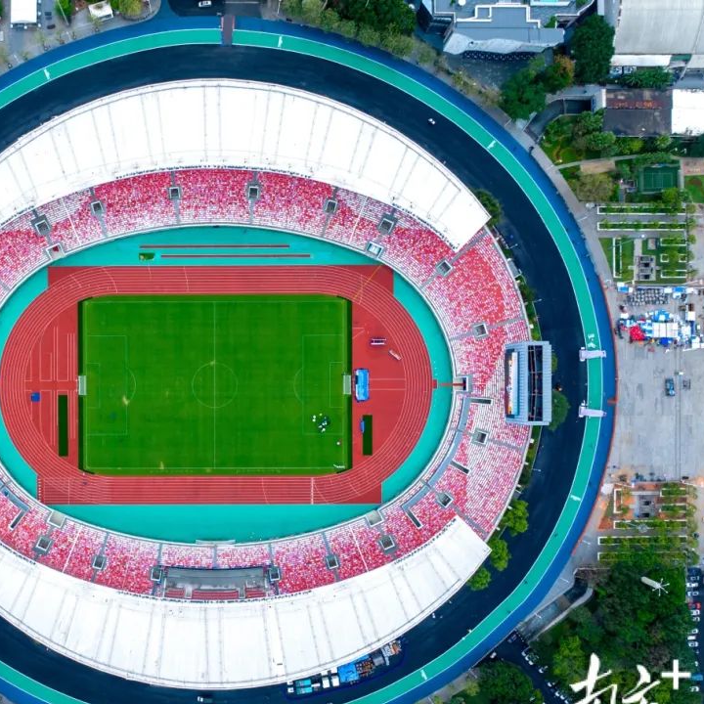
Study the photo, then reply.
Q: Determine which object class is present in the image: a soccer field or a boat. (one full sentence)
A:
I can see a soccer field in this picture.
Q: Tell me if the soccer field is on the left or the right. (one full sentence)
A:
The soccer field sits on the left side.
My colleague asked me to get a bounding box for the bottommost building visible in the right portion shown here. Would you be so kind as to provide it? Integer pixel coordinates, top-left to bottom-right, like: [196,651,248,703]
[637,495,658,518]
